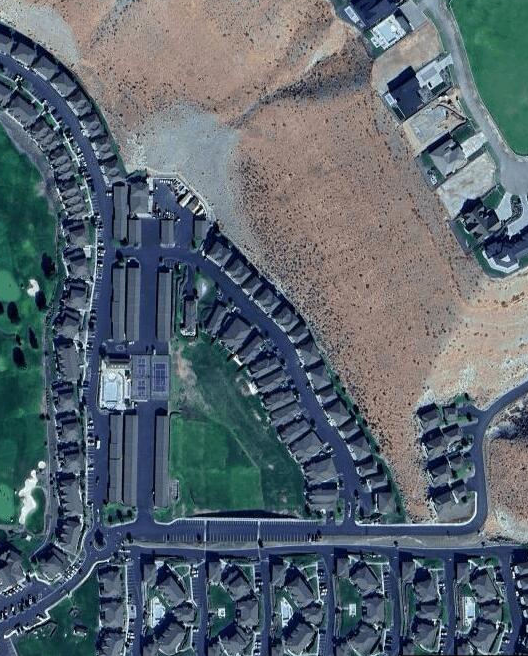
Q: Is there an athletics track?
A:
No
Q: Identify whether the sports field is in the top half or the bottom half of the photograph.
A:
bottom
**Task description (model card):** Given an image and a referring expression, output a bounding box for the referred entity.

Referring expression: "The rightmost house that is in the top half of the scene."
[485,222,528,270]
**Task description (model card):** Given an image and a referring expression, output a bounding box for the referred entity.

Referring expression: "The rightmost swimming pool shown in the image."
[462,596,474,628]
